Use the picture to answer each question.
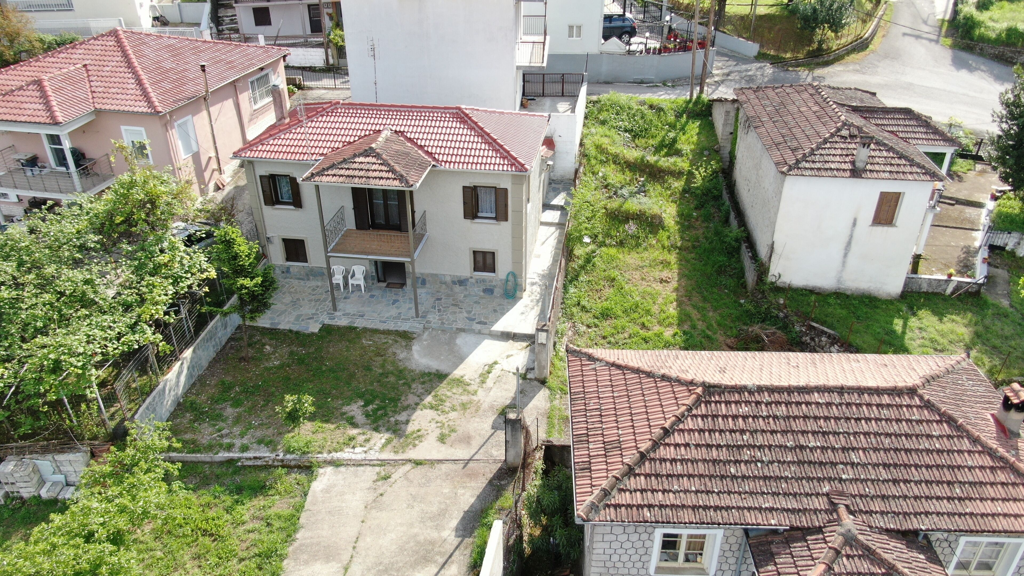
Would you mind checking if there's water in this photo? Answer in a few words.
No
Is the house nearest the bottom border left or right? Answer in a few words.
right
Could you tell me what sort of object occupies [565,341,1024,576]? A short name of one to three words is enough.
house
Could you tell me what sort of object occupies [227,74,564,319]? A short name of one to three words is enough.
house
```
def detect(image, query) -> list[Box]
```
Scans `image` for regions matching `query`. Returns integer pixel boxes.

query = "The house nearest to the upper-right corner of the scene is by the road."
[733,79,965,297]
